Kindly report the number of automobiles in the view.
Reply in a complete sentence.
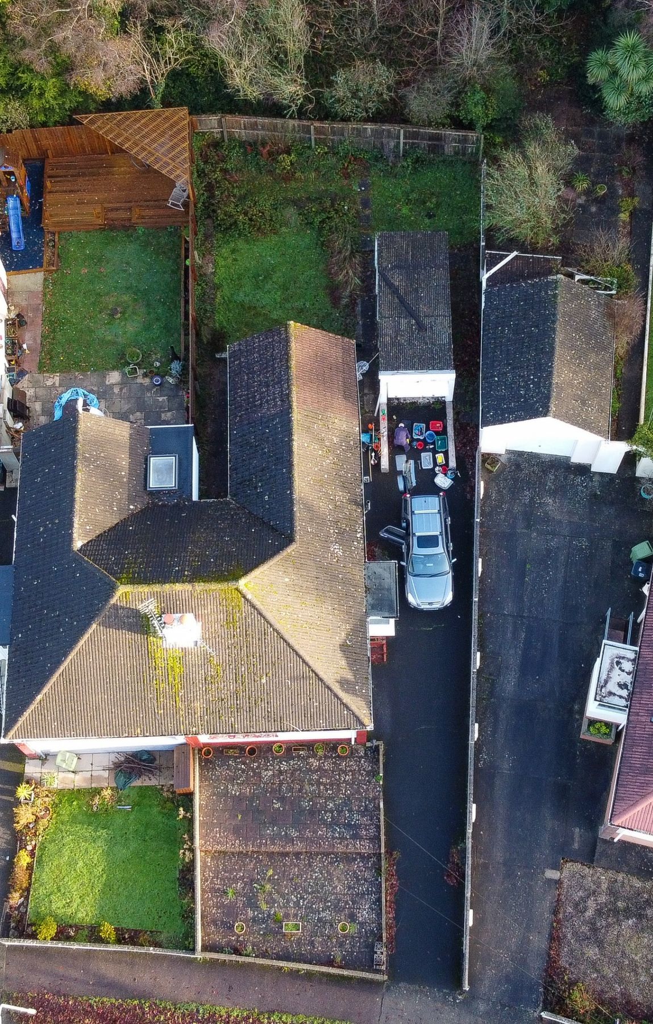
There is 1 automobile in the image.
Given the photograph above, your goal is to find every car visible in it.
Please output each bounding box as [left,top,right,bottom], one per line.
[381,490,459,612]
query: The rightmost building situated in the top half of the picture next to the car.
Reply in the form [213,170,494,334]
[477,275,618,464]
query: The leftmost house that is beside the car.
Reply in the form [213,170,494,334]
[0,320,400,755]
